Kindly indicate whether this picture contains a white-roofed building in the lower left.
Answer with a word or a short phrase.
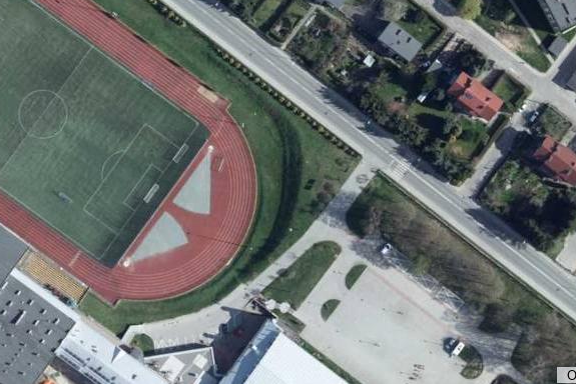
Yes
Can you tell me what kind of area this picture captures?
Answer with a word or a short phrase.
sports ground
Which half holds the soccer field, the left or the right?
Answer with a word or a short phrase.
left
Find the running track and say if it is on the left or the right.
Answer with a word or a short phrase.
left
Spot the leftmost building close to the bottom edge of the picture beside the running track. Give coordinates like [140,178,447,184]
[0,278,75,384]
